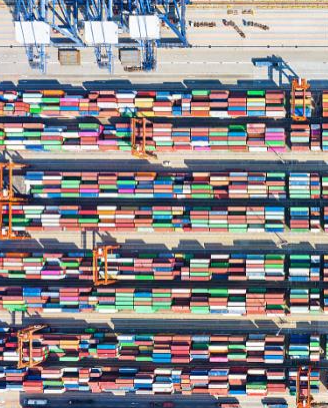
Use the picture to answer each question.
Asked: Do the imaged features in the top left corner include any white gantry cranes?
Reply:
Yes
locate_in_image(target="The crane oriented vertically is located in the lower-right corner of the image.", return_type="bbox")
[295,360,315,408]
